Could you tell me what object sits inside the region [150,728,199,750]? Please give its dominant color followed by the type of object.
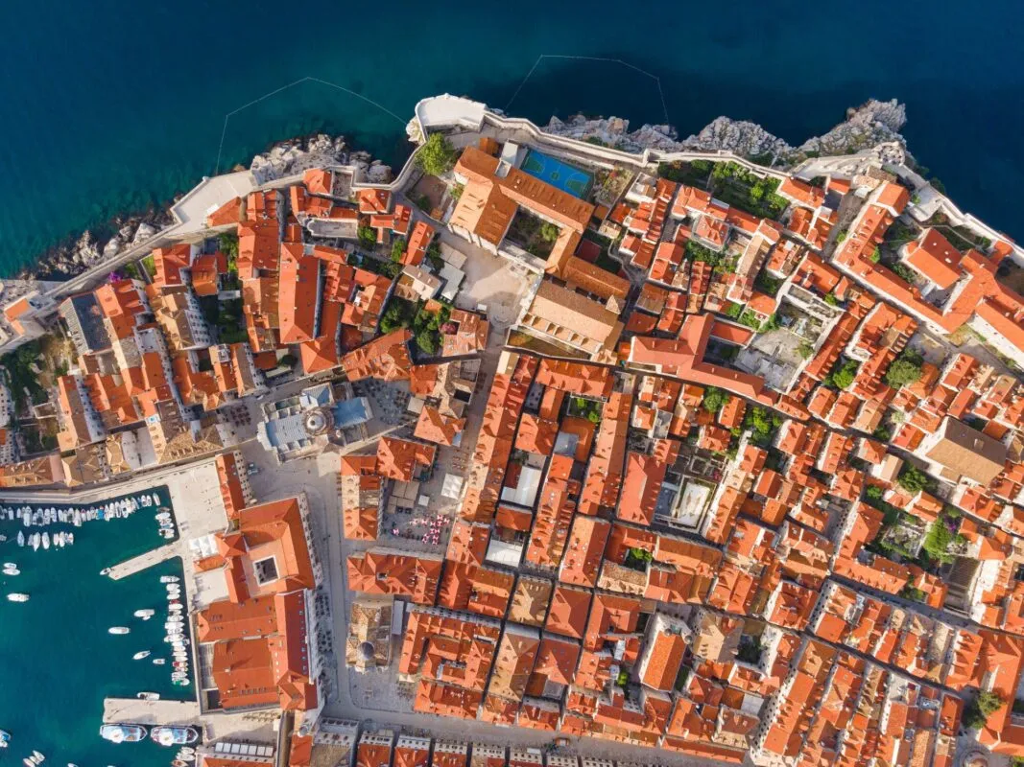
white boat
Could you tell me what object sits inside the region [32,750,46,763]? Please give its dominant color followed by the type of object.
white boat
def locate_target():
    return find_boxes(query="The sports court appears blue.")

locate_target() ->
[517,147,599,201]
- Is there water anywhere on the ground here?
Yes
